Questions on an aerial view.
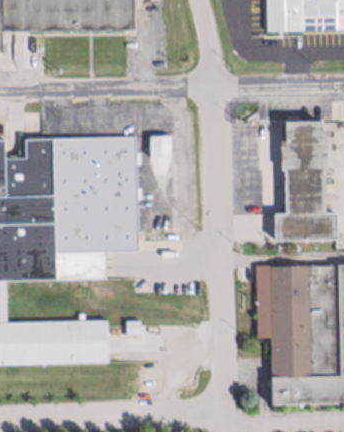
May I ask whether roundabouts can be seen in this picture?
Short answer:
No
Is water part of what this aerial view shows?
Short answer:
No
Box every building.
[0,136,142,322]
[274,120,337,242]
[150,134,172,158]
[0,0,136,34]
[126,319,142,334]
[256,264,344,404]
[264,0,344,38]
[0,312,110,367]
